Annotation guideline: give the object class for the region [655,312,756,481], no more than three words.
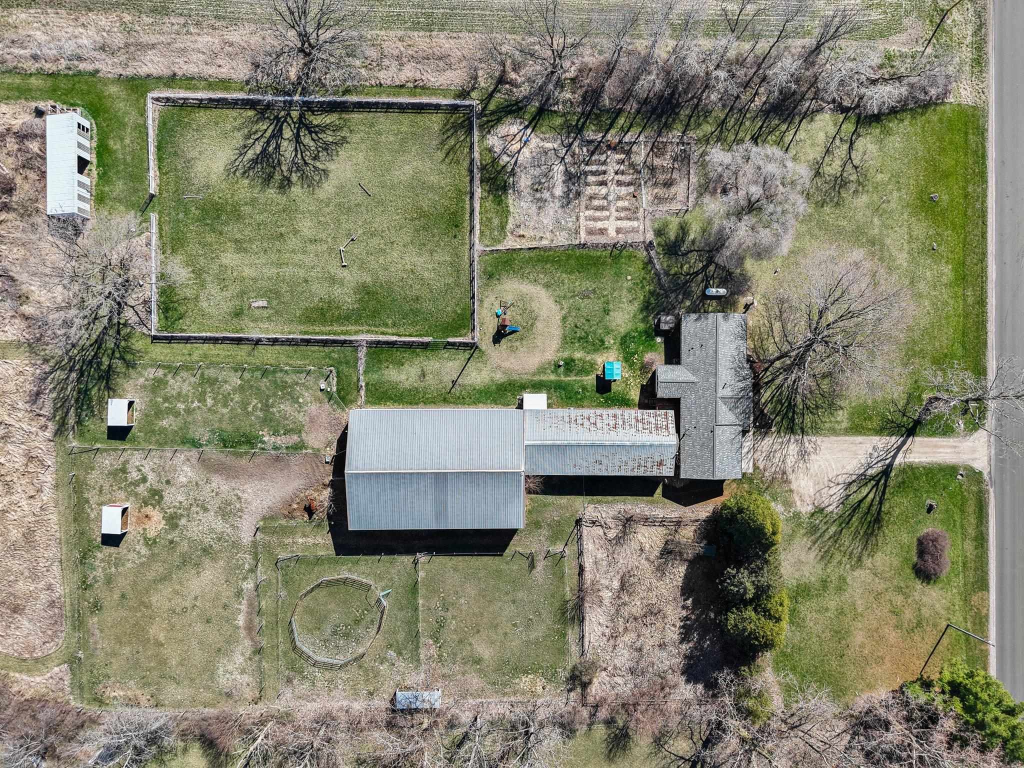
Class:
house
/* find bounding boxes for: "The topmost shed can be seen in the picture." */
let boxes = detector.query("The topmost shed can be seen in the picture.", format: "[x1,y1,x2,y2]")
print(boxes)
[46,114,90,218]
